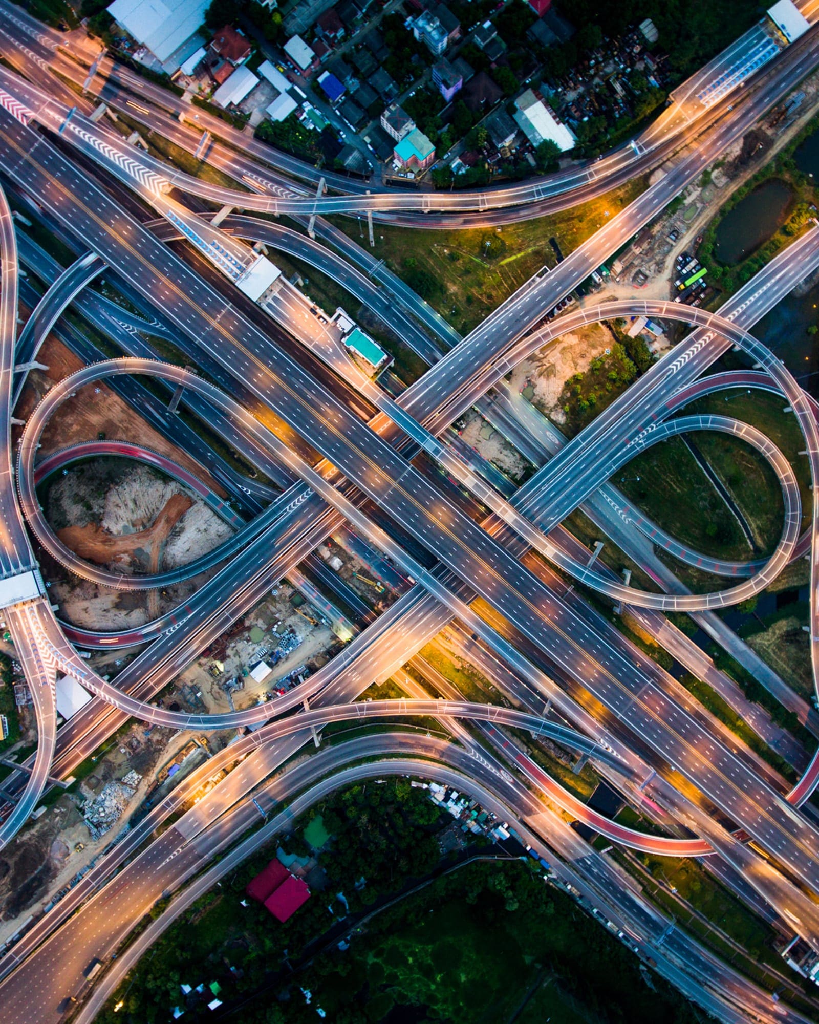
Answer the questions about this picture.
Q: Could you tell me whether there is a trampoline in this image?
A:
No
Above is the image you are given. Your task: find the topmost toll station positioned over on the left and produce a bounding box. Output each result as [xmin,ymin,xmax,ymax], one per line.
[233,252,289,311]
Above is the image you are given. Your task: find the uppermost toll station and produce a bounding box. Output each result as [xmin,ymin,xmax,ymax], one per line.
[755,0,811,53]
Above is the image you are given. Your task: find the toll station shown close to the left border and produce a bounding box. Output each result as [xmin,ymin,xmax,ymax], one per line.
[0,563,46,614]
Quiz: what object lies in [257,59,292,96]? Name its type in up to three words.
shed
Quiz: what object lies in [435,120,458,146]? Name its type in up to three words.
house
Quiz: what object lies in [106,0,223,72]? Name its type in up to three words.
building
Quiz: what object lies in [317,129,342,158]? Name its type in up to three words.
house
